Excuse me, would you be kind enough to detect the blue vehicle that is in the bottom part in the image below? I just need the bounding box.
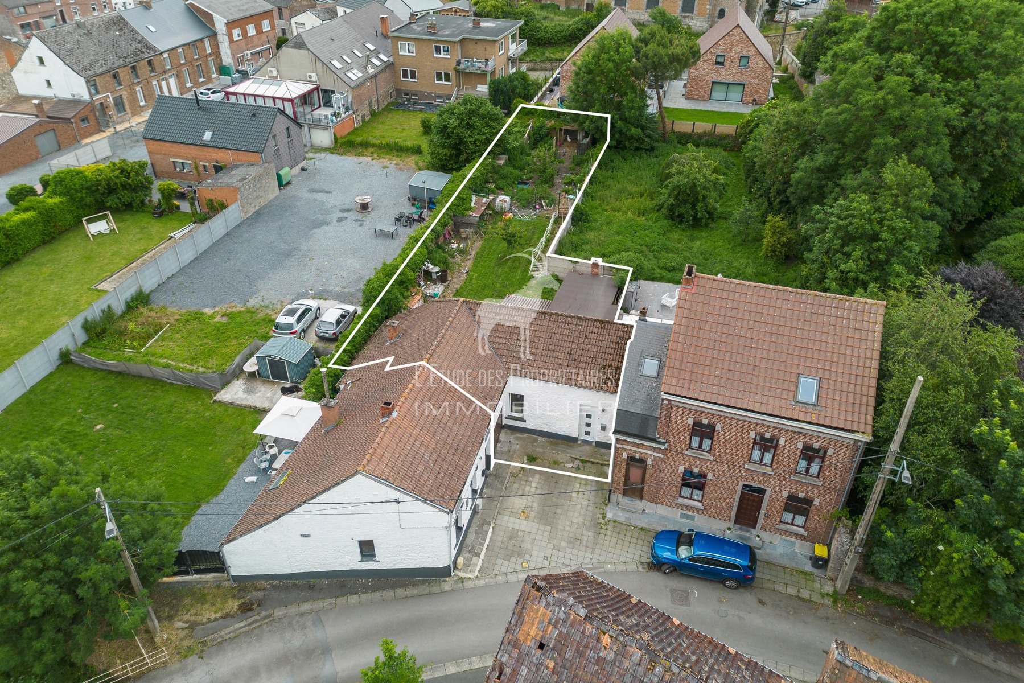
[650,523,759,586]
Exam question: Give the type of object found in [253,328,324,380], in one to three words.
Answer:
shed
